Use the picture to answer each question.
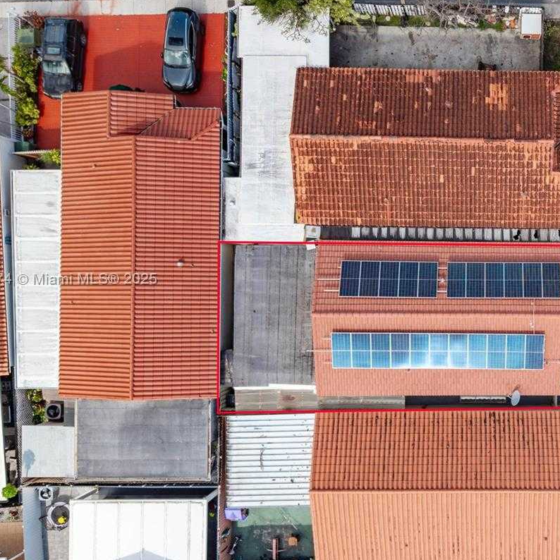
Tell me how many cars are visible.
2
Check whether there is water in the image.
No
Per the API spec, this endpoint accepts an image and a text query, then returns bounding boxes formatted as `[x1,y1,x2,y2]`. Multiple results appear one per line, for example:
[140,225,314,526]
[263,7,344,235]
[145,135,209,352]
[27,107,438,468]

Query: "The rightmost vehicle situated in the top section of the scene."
[160,8,206,94]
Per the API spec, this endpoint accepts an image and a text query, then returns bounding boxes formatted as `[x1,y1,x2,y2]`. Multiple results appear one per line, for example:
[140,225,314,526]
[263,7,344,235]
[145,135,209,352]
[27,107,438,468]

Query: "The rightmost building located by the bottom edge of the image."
[313,409,560,560]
